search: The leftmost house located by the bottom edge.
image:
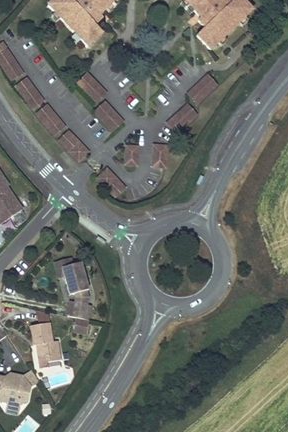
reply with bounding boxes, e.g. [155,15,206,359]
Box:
[0,370,38,416]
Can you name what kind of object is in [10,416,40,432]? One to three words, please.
swimming pool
